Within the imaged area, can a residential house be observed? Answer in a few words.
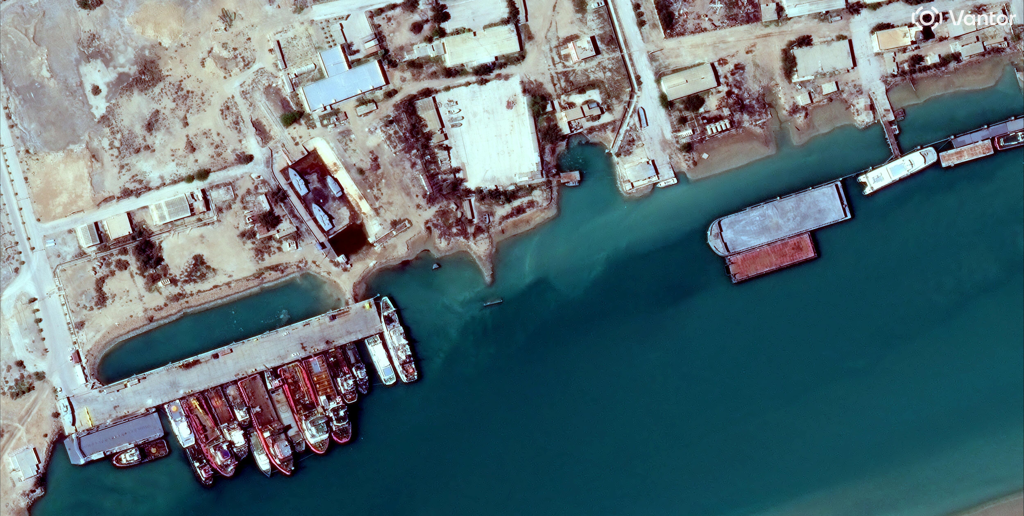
Yes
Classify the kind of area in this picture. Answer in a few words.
port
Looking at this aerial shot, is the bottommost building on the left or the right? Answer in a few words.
left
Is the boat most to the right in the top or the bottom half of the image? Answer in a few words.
top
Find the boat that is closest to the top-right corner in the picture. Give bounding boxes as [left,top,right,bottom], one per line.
[994,129,1024,150]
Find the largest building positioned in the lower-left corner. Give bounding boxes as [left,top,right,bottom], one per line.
[8,448,39,479]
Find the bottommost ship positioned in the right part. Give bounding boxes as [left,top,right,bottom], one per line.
[724,232,817,283]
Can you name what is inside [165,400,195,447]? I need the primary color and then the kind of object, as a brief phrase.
white ship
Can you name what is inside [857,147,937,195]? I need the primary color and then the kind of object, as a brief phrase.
white ship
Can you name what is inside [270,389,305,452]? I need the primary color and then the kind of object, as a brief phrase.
gray ship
